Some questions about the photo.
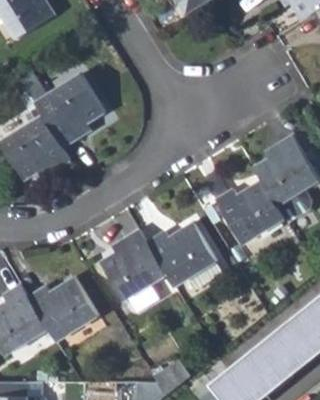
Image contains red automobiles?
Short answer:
Yes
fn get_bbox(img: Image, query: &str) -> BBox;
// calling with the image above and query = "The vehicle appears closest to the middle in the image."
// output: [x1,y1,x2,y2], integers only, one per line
[154,172,174,188]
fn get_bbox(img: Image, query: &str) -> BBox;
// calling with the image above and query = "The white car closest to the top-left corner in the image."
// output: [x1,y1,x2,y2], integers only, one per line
[76,144,93,168]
